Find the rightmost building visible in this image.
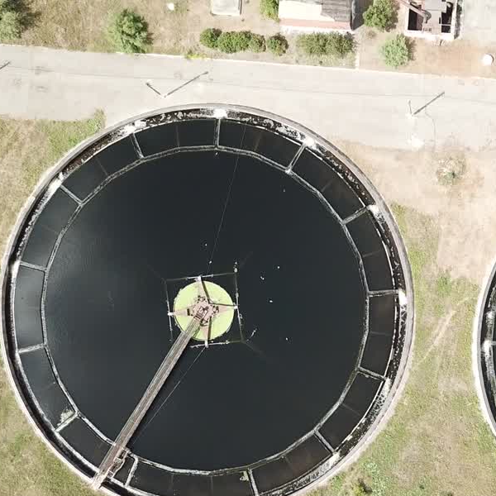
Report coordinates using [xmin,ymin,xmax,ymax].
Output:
[401,0,467,48]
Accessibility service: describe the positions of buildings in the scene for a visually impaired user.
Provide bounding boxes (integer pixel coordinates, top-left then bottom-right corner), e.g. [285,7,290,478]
[275,0,366,35]
[211,0,243,20]
[401,0,467,48]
